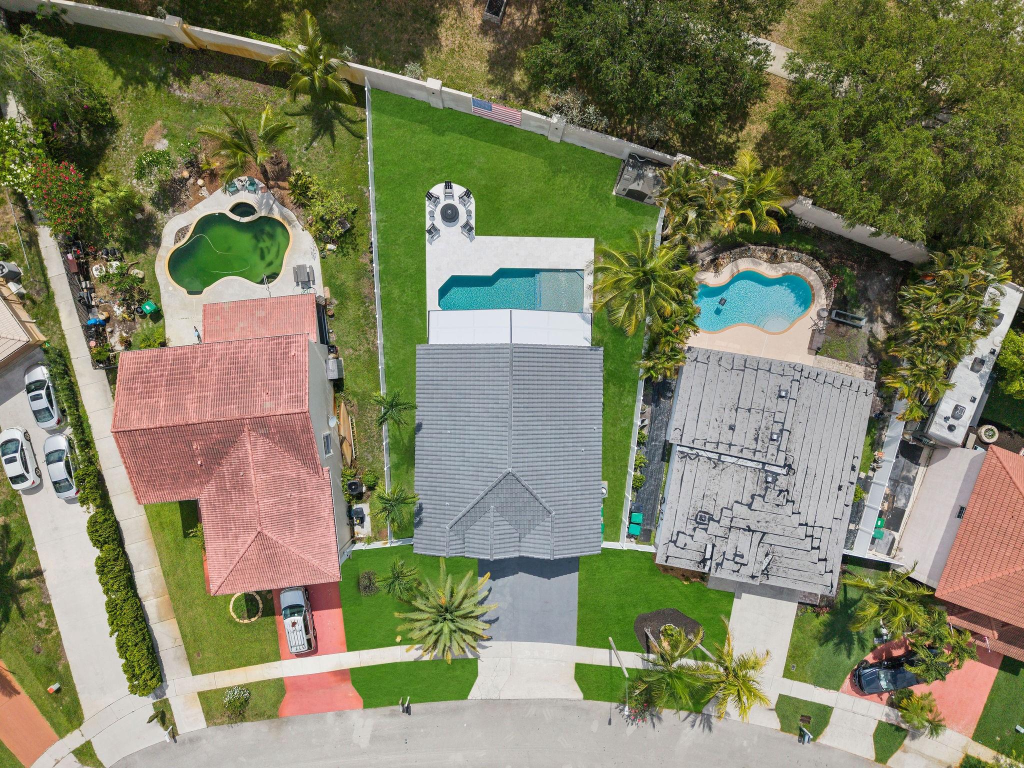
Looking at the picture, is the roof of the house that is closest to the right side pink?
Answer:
Yes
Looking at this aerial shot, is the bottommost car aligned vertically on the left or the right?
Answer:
left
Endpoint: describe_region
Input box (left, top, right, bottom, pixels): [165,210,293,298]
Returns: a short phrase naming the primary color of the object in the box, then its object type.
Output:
green swimming pool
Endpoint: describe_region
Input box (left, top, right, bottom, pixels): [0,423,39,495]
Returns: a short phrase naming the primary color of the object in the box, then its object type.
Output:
white car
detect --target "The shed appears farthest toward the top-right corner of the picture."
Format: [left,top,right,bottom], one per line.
[608,158,661,209]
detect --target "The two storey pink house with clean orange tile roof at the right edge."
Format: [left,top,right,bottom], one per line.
[893,444,1024,660]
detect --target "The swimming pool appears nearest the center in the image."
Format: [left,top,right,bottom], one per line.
[439,268,584,312]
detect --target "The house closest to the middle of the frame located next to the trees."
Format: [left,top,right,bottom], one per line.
[413,343,604,561]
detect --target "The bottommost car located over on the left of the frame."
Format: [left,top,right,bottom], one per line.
[276,585,315,659]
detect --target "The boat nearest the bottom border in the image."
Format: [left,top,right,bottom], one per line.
[339,403,353,465]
